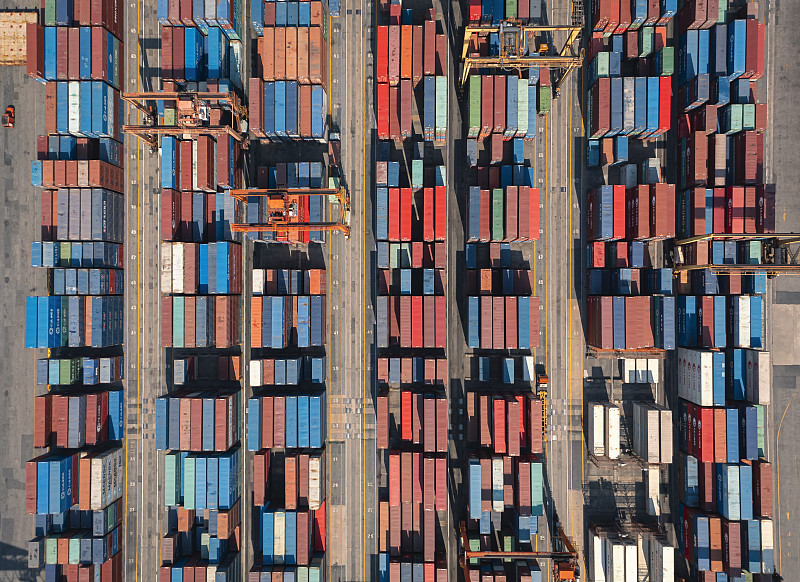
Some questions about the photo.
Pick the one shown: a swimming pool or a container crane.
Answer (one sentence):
I can see a container crane in this picture.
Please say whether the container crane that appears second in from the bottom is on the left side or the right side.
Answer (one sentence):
The container crane that appears second in from the bottom appears in the right half of the scene.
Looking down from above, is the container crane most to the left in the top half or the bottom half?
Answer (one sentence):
You can find the container crane most to the left in the top half.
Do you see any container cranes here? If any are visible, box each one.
[454,20,580,94]
[116,92,252,158]
[454,516,583,582]
[228,187,357,242]
[666,230,800,278]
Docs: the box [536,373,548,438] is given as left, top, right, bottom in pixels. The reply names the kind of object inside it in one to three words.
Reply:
vehicle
